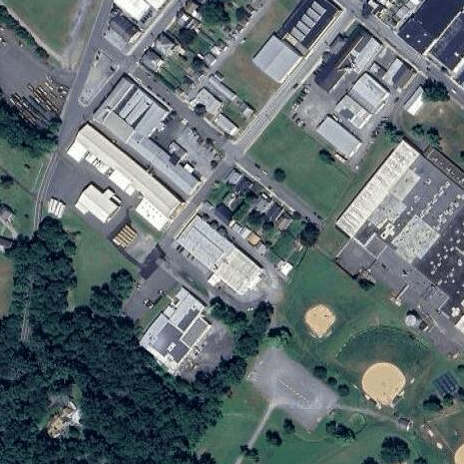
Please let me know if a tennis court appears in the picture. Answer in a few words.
No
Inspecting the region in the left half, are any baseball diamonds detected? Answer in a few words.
No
